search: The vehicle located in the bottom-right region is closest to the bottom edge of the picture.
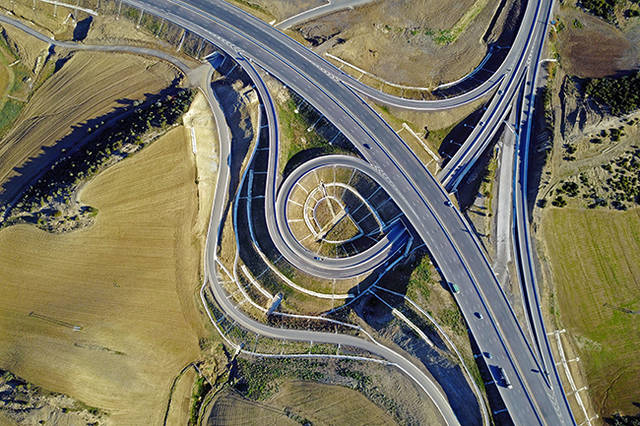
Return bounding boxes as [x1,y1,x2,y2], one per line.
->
[501,368,514,388]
